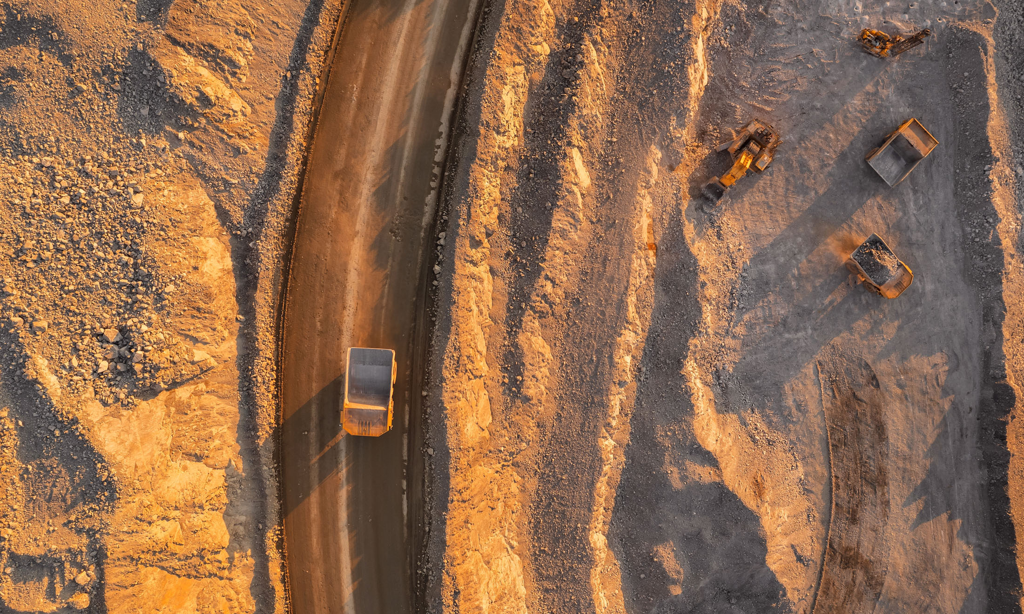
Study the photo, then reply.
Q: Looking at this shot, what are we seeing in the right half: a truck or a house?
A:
truck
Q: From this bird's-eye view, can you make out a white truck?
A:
No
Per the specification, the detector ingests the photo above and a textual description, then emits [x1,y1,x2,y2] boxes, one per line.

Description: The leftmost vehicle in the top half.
[696,122,778,206]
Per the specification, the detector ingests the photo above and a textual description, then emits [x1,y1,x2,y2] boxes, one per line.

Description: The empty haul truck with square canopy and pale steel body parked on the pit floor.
[863,117,939,187]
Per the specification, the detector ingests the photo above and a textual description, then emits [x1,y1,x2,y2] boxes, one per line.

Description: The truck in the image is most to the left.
[338,346,401,437]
